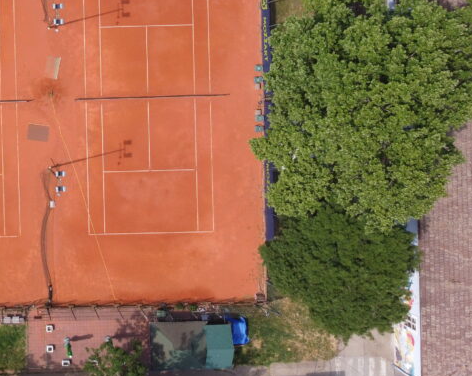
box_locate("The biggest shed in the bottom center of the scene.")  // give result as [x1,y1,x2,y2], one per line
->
[150,313,234,369]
